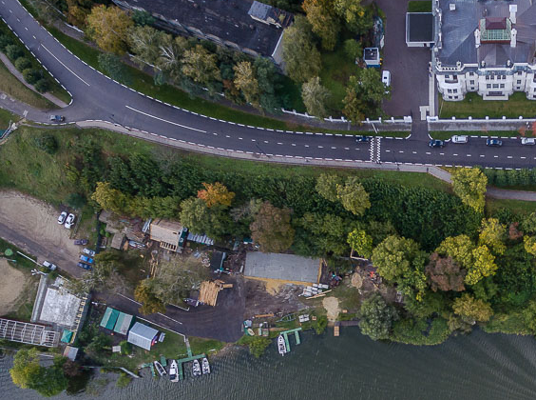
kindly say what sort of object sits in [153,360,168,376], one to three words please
boat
